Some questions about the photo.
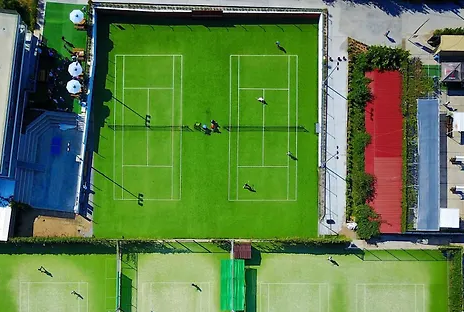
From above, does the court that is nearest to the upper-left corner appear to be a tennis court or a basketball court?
tennis court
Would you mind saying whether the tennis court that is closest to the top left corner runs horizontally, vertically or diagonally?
vertically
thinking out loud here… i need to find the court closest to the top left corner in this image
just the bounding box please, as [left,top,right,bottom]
[112,52,185,203]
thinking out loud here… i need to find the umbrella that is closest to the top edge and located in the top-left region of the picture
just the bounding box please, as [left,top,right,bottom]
[70,10,85,27]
